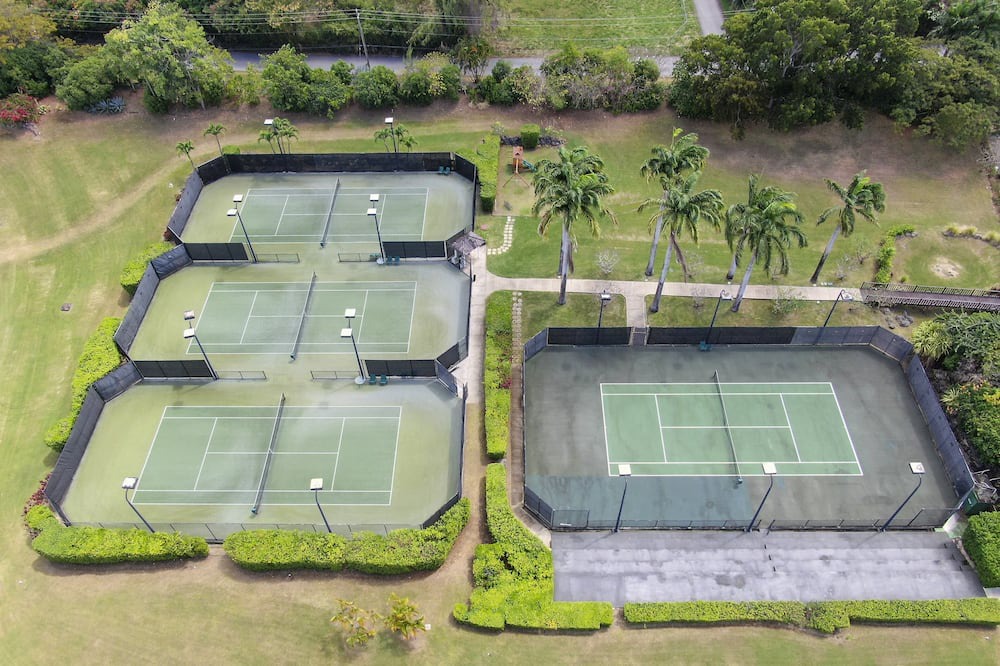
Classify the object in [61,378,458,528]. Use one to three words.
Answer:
tennis court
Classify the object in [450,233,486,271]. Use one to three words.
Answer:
gazebo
